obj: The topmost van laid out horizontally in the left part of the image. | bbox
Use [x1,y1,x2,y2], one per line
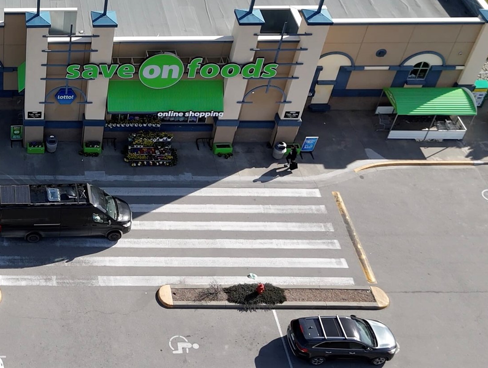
[0,184,132,241]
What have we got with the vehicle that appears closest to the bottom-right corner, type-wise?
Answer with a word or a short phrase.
car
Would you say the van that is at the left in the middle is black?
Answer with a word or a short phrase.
Yes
